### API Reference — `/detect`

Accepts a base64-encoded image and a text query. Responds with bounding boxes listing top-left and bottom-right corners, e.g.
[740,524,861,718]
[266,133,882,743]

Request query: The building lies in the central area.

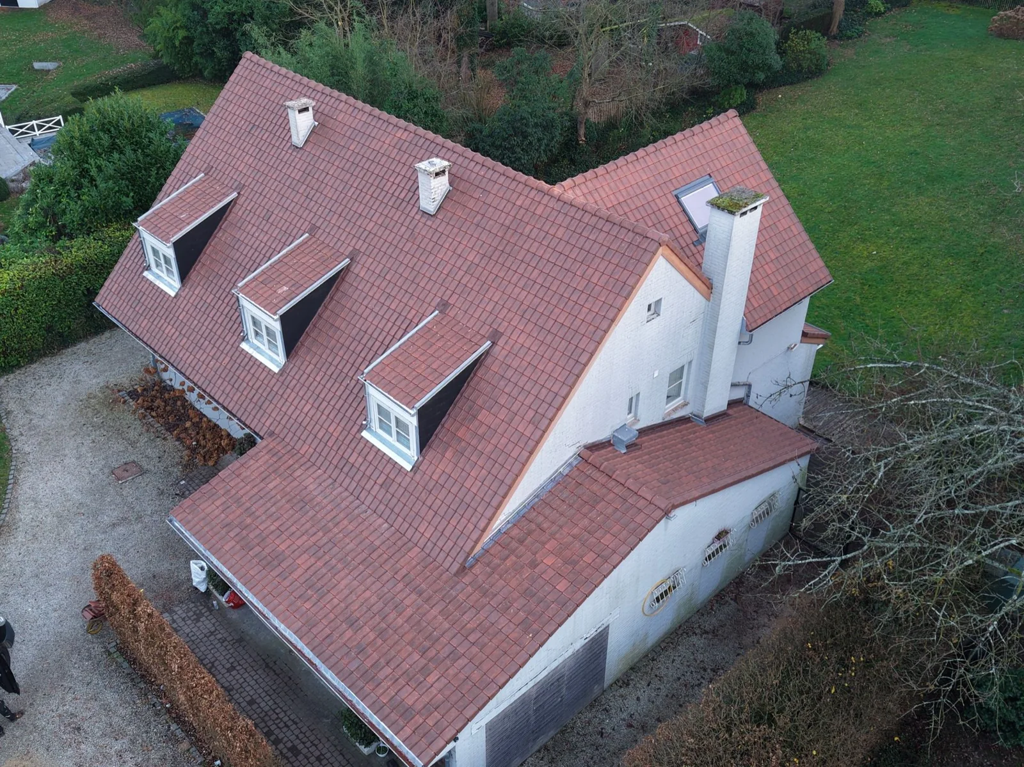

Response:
[87,54,841,767]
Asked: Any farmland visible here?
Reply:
No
